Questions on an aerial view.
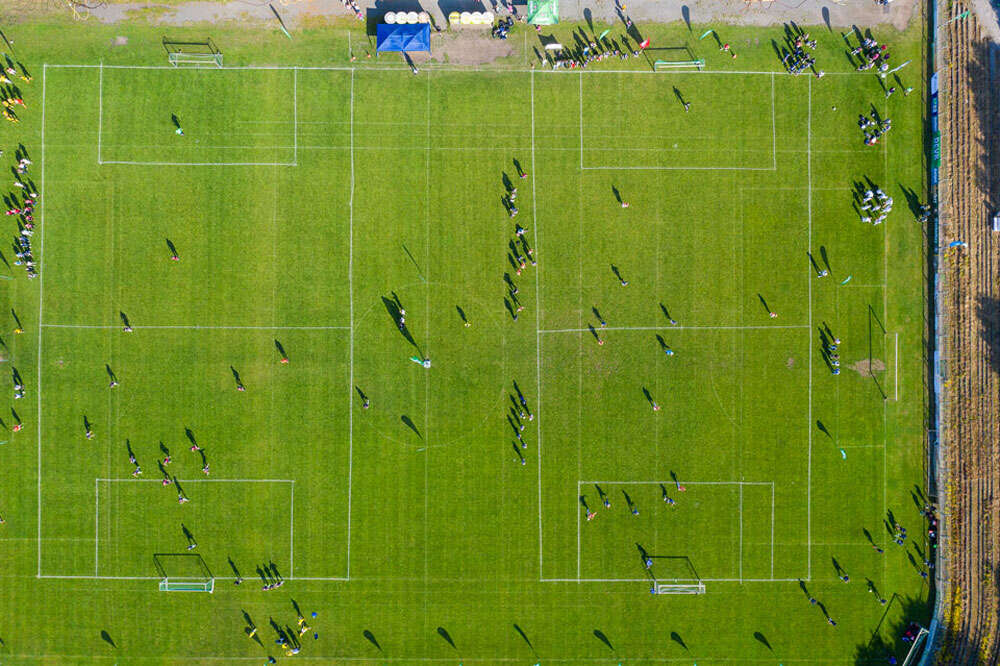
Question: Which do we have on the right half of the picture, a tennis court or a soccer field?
soccer field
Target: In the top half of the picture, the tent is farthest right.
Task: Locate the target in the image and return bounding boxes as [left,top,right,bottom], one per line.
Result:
[527,0,559,31]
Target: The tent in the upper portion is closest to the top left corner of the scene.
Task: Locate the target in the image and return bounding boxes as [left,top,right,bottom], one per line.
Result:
[377,23,432,58]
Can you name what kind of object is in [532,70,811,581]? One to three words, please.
soccer field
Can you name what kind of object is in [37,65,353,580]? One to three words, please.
soccer field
